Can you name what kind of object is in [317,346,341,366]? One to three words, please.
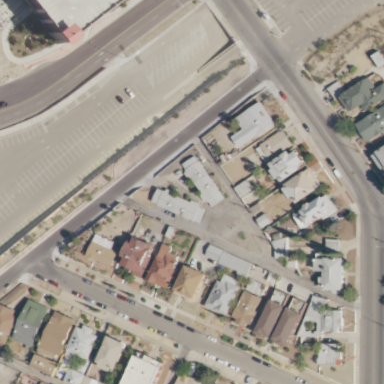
house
